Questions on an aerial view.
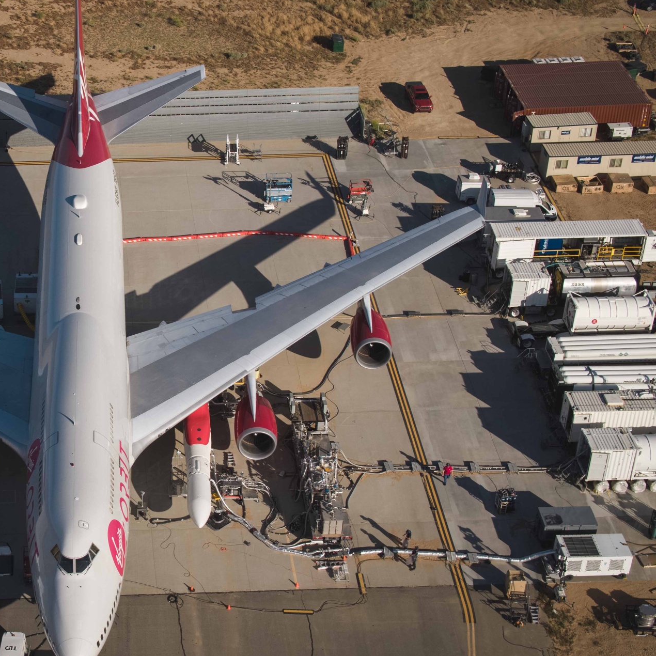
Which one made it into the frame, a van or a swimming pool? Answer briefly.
van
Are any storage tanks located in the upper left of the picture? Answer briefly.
No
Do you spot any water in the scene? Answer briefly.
No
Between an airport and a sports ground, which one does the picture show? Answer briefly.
airport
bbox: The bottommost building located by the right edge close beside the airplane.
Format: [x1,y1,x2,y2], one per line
[538,138,656,180]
